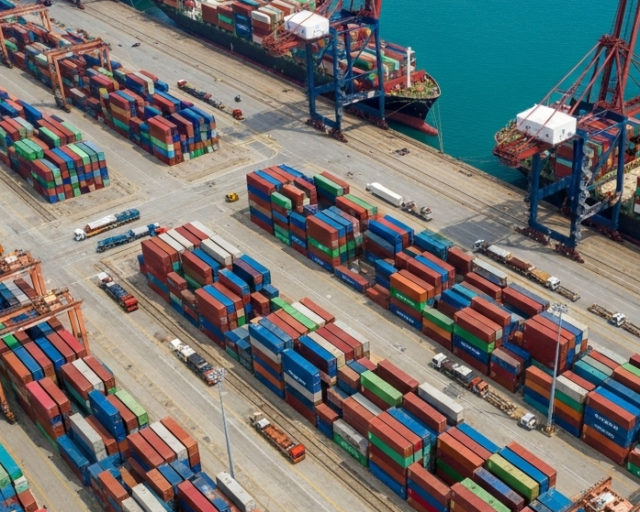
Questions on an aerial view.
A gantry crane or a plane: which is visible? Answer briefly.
gantry crane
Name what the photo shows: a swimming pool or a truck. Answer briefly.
truck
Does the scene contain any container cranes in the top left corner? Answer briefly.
Yes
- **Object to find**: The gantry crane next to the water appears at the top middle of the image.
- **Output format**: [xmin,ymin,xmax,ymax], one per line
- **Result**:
[260,0,388,141]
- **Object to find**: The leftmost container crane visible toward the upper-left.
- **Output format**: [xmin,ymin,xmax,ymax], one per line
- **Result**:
[0,3,56,60]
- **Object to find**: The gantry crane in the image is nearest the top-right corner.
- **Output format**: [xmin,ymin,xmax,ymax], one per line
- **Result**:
[492,0,640,261]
